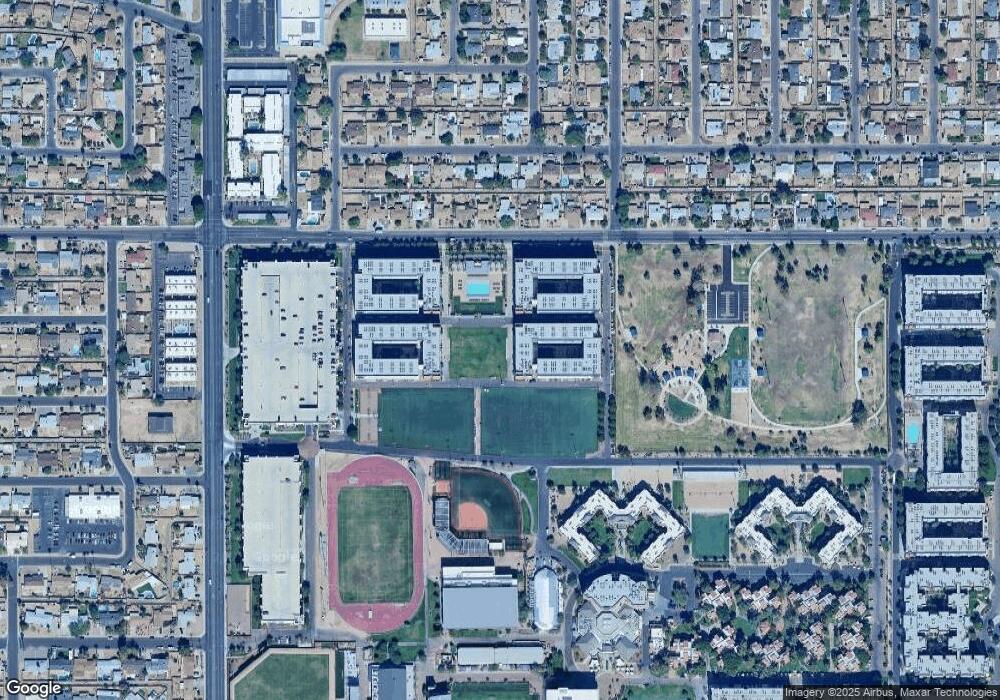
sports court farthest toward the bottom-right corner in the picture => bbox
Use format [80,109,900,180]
[684,480,737,509]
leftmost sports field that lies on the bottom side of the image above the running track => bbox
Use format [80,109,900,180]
[379,389,474,453]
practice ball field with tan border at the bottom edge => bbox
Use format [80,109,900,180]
[229,647,334,700]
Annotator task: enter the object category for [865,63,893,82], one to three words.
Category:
house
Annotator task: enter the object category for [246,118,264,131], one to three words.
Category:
swimming pool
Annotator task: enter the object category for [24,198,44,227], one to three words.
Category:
house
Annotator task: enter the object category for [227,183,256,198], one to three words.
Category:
building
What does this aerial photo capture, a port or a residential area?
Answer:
residential area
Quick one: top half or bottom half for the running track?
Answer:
bottom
